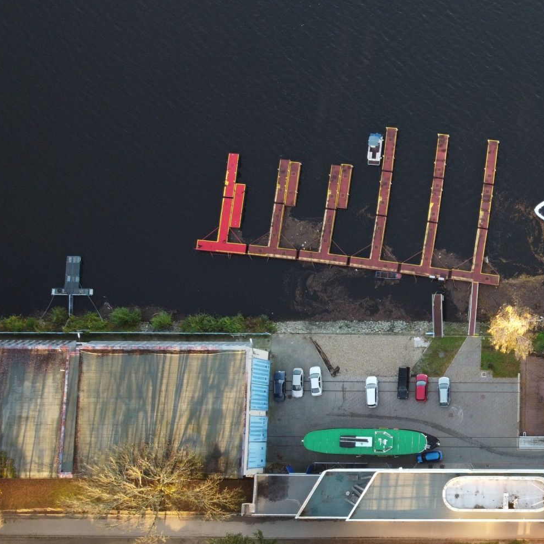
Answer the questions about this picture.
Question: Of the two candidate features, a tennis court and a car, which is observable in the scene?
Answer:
car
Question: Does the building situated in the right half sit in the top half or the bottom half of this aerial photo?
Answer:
bottom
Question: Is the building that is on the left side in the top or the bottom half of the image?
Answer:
bottom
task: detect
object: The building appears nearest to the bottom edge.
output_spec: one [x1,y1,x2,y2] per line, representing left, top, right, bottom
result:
[242,467,544,521]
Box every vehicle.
[363,375,379,407]
[290,368,305,398]
[271,371,287,401]
[308,366,324,397]
[417,450,444,464]
[394,366,412,400]
[436,375,451,407]
[415,373,429,403]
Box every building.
[242,467,544,521]
[0,341,285,477]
